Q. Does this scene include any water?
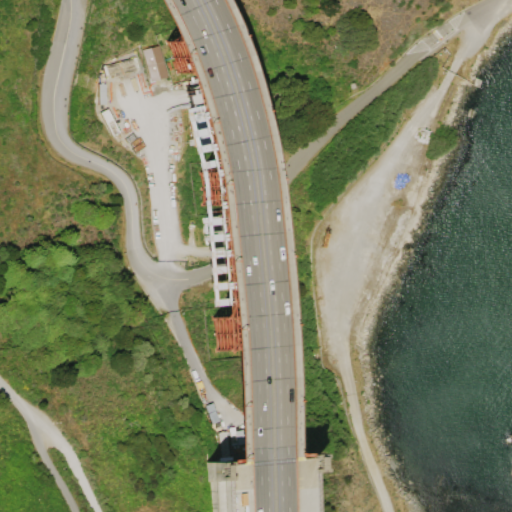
Yes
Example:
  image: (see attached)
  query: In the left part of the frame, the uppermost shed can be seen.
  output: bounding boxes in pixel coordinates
[146,48,170,84]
